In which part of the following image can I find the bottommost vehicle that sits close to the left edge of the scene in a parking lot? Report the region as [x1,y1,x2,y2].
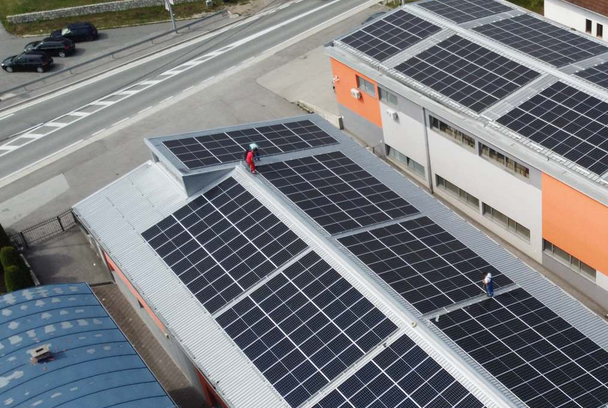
[1,52,53,73]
